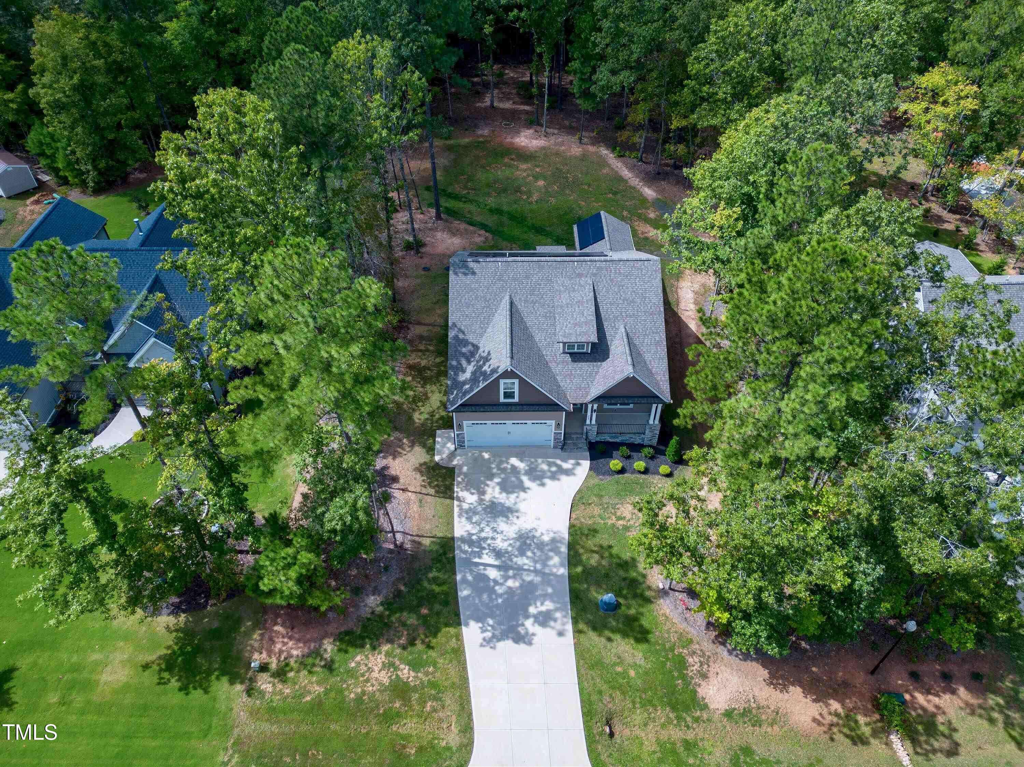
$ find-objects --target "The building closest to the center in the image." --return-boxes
[446,210,673,452]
